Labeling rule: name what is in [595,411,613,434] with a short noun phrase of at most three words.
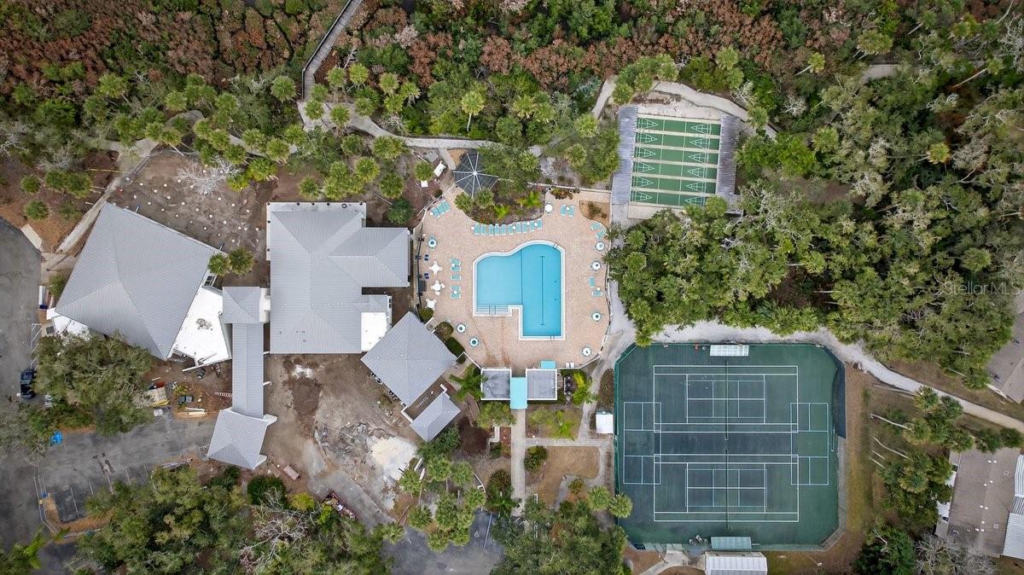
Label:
shed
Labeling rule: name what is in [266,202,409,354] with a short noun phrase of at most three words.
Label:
building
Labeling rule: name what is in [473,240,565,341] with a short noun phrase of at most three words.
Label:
swimming pool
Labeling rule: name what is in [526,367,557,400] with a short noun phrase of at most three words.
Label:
building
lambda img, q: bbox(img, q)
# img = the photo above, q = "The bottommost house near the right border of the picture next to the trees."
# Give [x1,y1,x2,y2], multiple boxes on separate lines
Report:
[937,446,1021,557]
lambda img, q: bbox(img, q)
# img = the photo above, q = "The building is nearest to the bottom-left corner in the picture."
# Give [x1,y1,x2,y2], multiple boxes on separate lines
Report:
[206,408,268,470]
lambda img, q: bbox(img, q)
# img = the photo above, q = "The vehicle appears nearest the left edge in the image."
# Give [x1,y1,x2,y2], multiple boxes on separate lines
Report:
[15,369,33,400]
